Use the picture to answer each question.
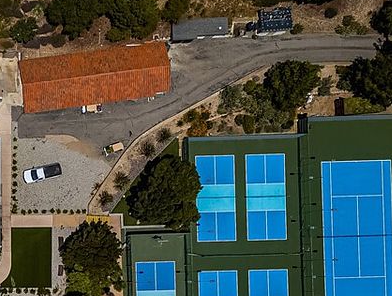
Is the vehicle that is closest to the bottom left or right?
left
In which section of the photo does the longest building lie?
top left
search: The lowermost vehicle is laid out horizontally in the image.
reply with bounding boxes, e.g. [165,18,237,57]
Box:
[23,163,62,184]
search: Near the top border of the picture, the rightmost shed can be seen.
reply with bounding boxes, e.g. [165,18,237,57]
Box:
[254,7,292,37]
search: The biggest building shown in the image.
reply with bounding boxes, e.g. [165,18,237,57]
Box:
[19,41,171,115]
